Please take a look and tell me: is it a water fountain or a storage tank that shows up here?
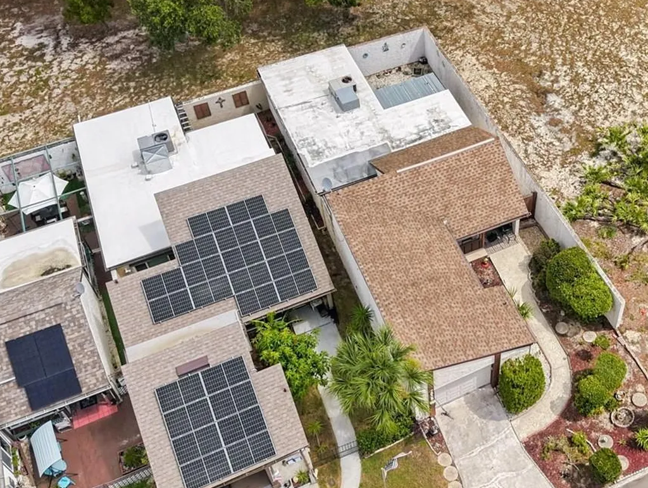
water fountain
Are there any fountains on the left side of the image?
No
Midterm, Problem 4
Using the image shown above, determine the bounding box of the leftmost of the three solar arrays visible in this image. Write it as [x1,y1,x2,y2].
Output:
[6,315,90,412]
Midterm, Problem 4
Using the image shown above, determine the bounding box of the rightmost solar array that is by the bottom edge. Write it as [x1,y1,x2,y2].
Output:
[160,357,281,488]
